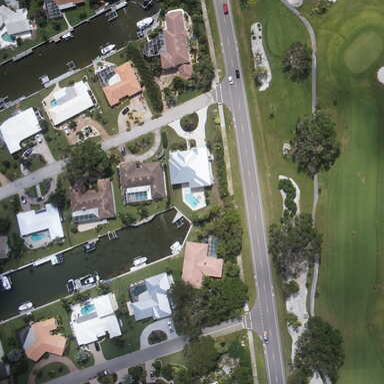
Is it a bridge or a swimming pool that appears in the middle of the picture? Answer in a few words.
swimming pool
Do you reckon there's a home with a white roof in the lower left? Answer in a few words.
Yes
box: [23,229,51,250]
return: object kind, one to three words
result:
swimming pool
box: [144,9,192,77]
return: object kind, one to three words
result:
house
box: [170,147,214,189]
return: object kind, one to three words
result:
house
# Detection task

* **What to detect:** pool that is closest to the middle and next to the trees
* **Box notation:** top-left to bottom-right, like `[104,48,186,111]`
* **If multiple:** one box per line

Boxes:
[182,187,207,211]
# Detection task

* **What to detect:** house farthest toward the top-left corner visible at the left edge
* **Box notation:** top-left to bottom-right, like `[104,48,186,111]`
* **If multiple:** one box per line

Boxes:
[0,4,35,39]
